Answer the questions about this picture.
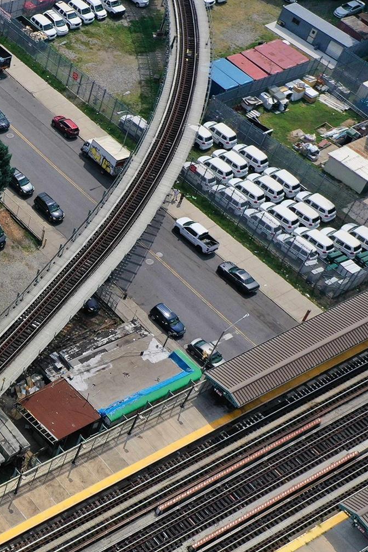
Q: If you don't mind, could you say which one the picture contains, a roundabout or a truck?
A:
truck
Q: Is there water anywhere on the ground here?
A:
No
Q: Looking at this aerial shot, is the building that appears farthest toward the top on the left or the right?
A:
right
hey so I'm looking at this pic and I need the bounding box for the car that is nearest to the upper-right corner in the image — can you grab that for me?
[334,1,366,19]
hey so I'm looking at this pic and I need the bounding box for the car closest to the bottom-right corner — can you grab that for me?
[183,338,222,372]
